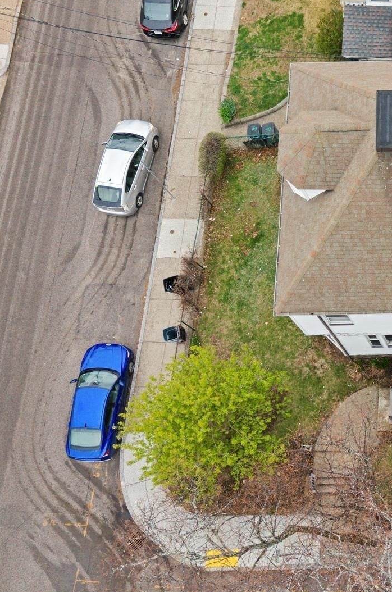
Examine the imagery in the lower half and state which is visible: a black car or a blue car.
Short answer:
blue car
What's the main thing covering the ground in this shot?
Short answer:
paved ground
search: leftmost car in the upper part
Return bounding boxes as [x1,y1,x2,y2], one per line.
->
[93,120,159,219]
